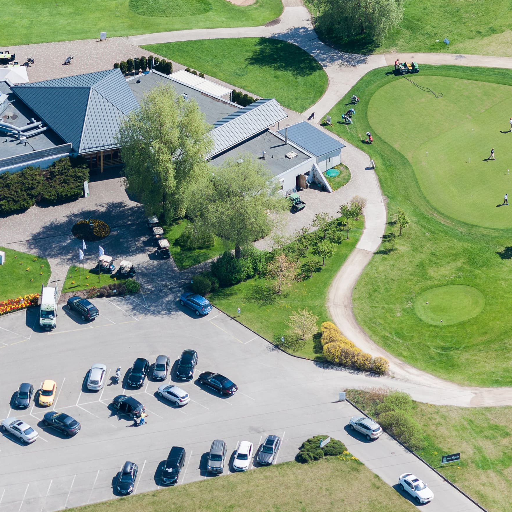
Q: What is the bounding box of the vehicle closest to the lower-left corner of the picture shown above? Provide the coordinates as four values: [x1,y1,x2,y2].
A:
[0,419,42,445]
